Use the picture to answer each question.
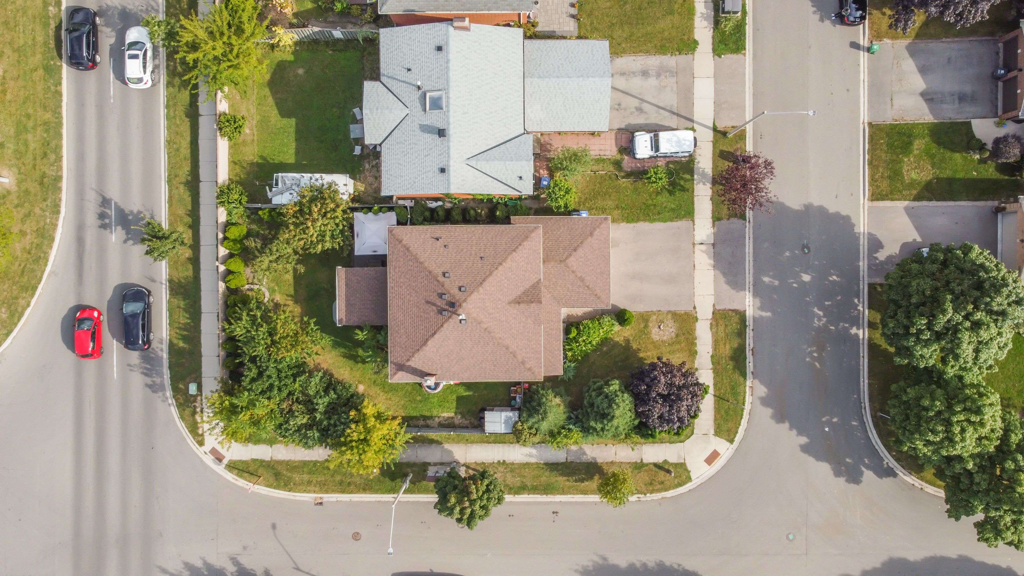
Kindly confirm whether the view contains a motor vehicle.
Yes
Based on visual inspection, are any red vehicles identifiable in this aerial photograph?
Yes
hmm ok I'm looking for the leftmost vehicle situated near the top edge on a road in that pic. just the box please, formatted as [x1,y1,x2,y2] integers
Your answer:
[66,8,101,71]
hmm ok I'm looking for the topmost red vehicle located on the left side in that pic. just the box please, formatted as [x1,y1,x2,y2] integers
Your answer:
[73,309,105,357]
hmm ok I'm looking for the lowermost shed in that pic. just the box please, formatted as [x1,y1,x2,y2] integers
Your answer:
[484,409,518,434]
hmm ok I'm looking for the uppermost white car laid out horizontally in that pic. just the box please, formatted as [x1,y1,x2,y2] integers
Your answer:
[632,127,699,160]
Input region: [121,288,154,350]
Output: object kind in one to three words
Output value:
car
